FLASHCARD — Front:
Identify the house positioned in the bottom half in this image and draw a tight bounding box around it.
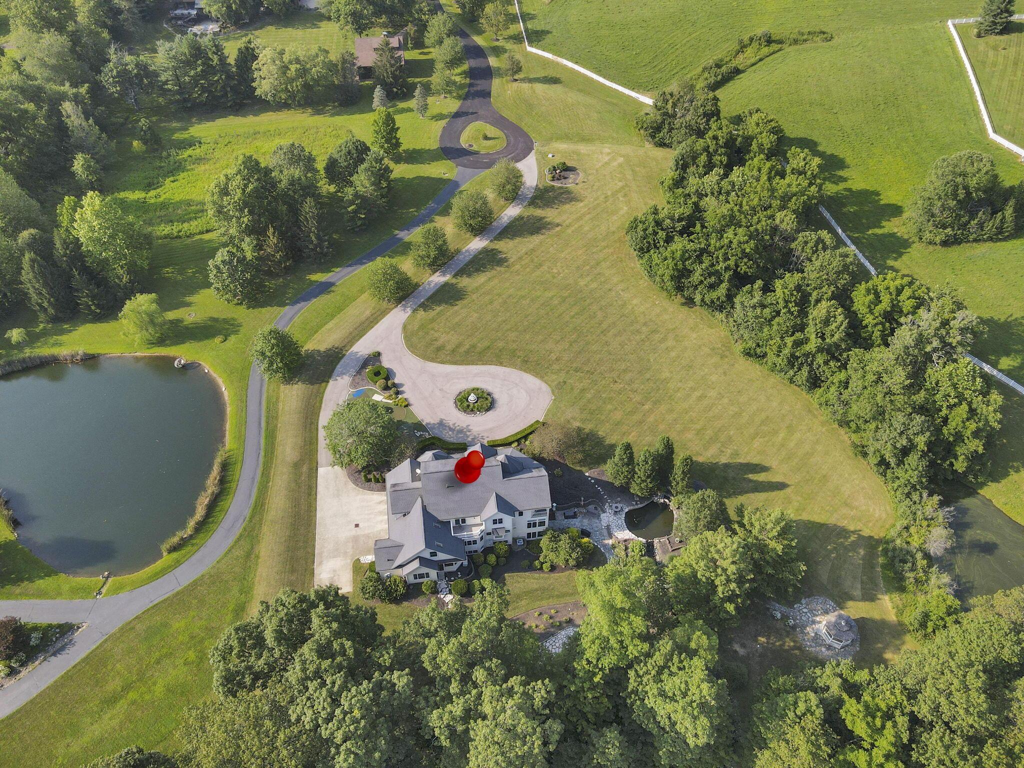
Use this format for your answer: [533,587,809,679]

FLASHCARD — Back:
[374,442,552,584]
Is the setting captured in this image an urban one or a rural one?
rural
